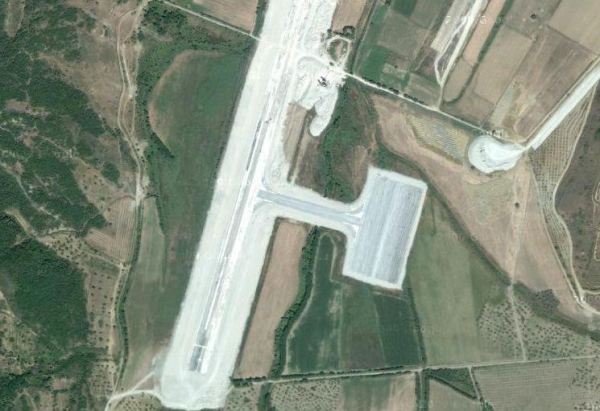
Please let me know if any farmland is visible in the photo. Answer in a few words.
Yes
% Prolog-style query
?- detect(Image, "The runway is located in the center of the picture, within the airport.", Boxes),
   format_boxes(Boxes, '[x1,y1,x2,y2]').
[190,0,296,371]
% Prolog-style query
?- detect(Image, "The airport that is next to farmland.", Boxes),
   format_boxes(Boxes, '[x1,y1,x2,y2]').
[160,0,428,410]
